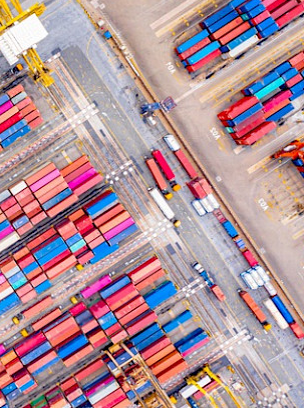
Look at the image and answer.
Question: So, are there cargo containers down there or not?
Yes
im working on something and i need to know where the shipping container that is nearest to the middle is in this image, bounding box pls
[147,186,174,215]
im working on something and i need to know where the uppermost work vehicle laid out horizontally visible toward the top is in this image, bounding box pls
[134,99,178,115]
